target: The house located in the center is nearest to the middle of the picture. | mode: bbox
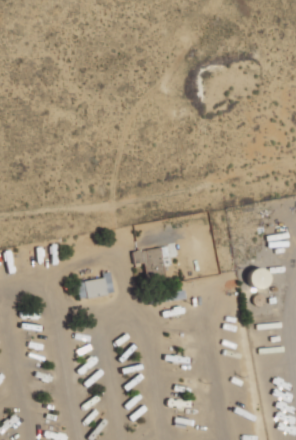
[134,244,178,281]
